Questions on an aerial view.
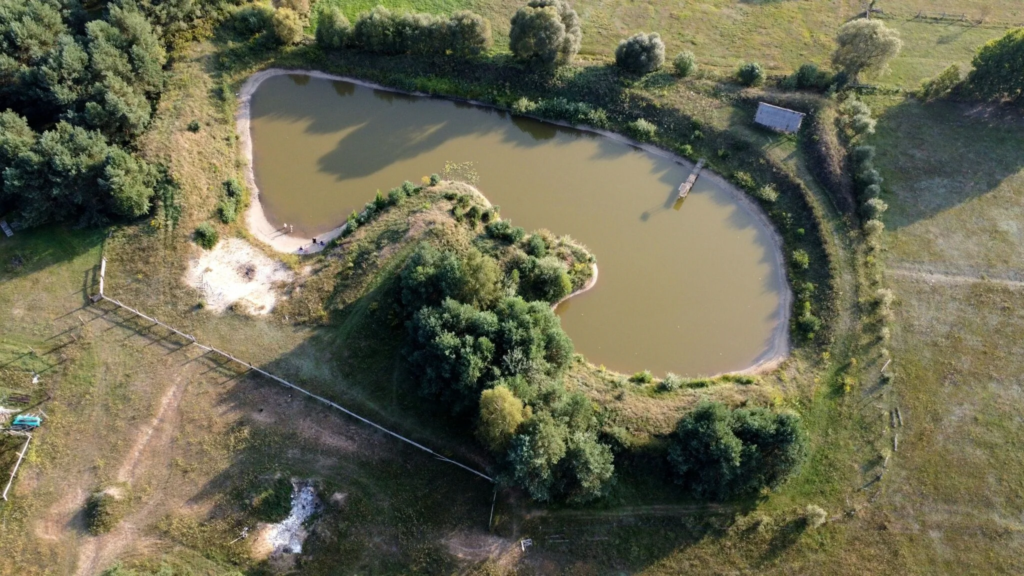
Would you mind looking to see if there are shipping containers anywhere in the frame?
No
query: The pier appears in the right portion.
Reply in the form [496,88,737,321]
[678,159,705,202]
